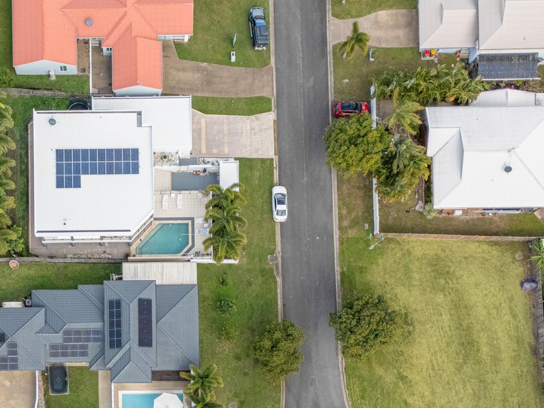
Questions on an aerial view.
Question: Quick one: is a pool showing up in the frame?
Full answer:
Yes, the frame does contain a pool.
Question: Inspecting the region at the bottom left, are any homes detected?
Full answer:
Yes, a home appears at the bottom left.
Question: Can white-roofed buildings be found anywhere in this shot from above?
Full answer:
Yes, the frame does contain a white-roofed building.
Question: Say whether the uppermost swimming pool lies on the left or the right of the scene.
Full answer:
You can find the uppermost swimming pool on the left side of the picture.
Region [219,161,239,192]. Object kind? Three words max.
building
